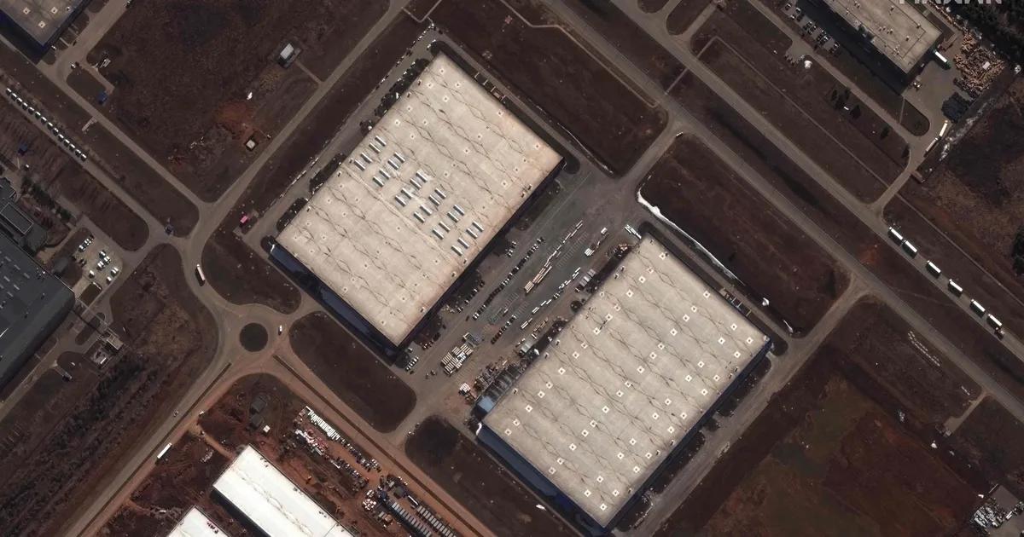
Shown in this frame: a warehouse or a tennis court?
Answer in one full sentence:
There is a warehouse in the scene.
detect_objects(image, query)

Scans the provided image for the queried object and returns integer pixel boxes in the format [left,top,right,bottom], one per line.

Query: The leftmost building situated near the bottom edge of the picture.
[165,506,228,537]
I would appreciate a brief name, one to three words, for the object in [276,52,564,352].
warehouse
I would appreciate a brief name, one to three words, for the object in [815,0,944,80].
building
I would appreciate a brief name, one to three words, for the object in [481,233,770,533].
warehouse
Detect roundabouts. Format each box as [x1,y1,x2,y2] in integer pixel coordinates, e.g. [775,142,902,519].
[230,314,277,361]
